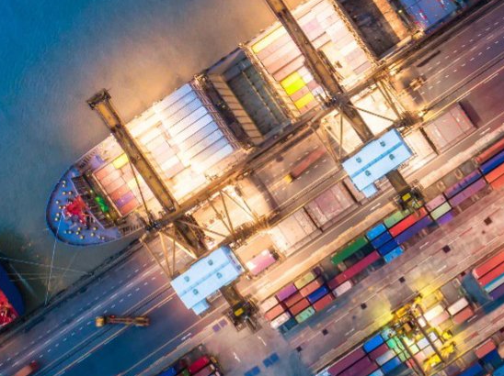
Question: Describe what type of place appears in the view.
port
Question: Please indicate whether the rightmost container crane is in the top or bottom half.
bottom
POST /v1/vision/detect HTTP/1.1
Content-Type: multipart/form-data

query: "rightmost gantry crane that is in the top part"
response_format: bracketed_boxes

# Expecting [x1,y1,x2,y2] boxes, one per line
[256,0,429,216]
